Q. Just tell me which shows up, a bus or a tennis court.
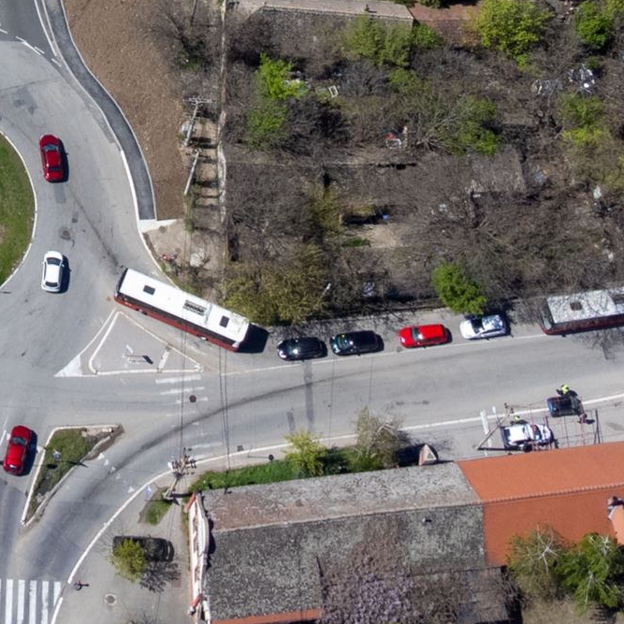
bus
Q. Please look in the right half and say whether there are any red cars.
Yes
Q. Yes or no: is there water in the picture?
No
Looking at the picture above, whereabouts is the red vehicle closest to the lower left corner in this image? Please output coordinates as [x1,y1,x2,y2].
[4,427,33,477]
